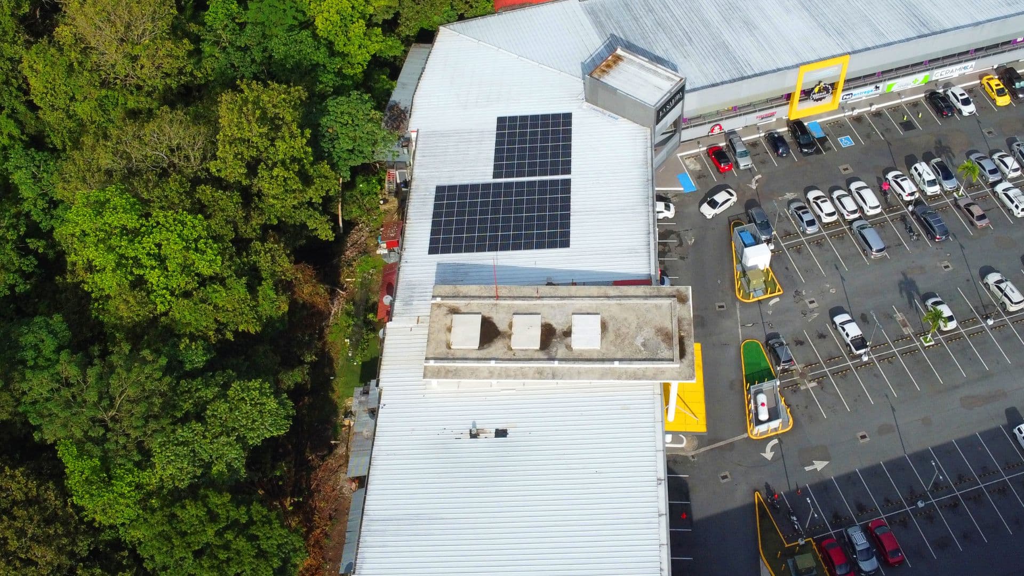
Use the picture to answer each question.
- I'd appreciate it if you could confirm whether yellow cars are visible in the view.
Yes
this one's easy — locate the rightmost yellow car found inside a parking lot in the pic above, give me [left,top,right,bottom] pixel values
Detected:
[981,78,1011,106]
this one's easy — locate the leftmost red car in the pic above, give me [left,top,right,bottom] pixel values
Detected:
[708,148,734,175]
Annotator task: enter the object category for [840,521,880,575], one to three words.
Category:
car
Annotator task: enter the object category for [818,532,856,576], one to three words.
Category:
car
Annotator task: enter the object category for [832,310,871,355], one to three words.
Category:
truck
